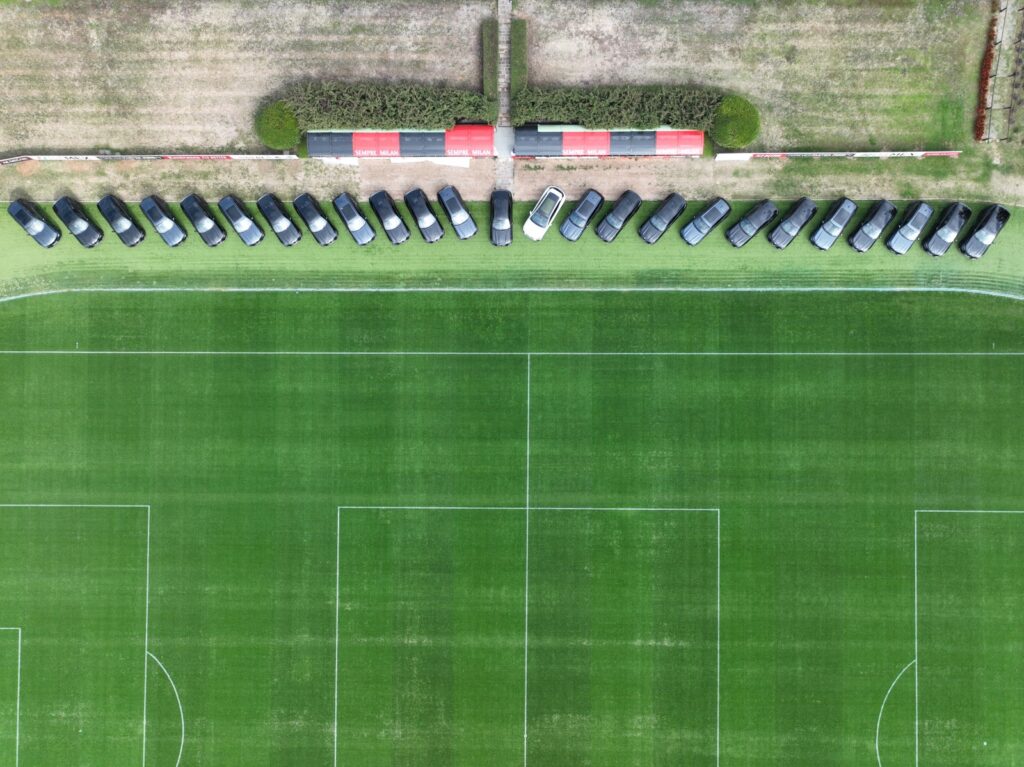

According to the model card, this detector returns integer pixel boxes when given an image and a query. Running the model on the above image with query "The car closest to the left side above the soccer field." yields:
[8,198,60,249]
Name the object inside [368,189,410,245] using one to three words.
car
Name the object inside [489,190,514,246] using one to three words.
car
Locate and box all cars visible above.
[810,196,859,251]
[726,198,779,249]
[768,198,819,251]
[489,190,514,246]
[52,195,103,248]
[368,189,410,245]
[436,183,477,240]
[886,201,936,256]
[559,187,604,243]
[255,192,302,247]
[681,197,733,248]
[138,194,187,247]
[848,198,898,253]
[8,198,60,249]
[331,190,375,245]
[523,186,566,243]
[179,192,226,247]
[97,193,146,247]
[217,192,265,246]
[922,202,972,258]
[639,192,688,245]
[596,189,643,243]
[292,191,338,246]
[960,206,1011,261]
[403,186,444,243]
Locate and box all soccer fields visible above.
[0,287,1024,767]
